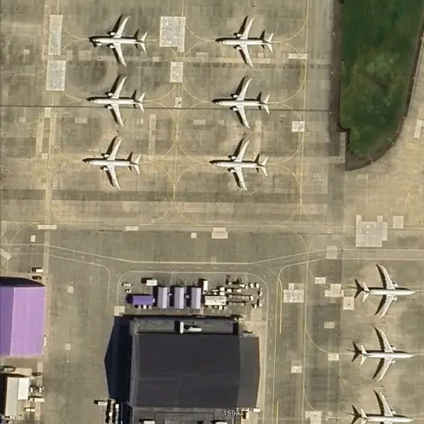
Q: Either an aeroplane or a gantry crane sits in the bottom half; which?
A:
aeroplane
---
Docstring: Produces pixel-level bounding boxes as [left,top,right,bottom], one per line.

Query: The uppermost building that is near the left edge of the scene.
[0,285,44,357]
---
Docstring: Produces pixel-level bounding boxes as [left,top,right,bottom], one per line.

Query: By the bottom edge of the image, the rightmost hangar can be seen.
[127,319,258,424]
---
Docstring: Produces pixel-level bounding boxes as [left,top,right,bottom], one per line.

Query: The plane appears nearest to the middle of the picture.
[212,139,267,190]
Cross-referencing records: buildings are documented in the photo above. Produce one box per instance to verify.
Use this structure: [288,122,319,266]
[157,287,171,309]
[173,287,187,309]
[0,285,44,357]
[132,296,154,306]
[190,287,204,309]
[127,319,258,424]
[0,374,39,416]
